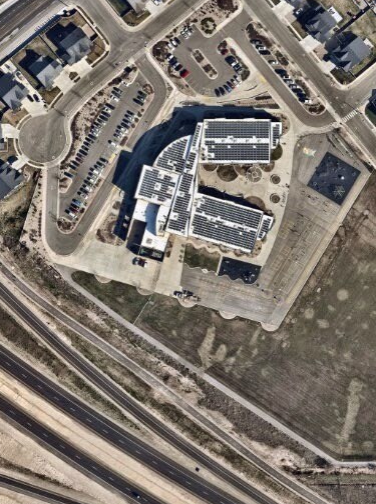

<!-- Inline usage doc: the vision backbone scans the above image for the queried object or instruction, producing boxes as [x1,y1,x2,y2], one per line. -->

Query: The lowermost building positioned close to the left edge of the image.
[0,166,25,204]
